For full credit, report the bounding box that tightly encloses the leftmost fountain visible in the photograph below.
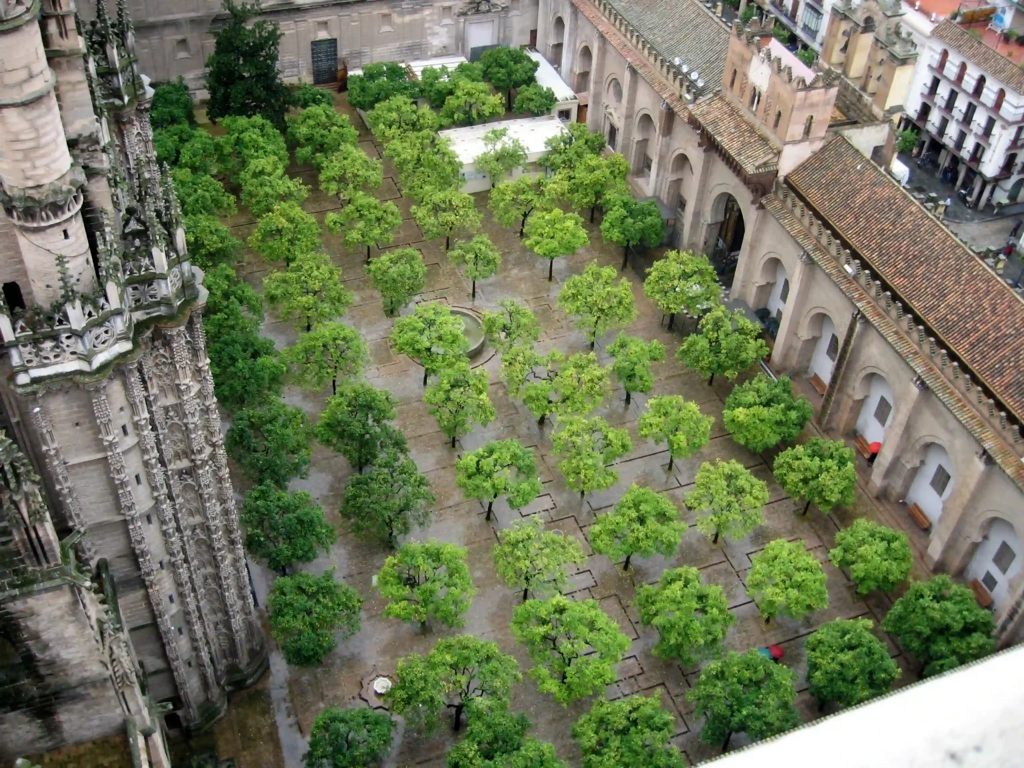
[374,676,391,695]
